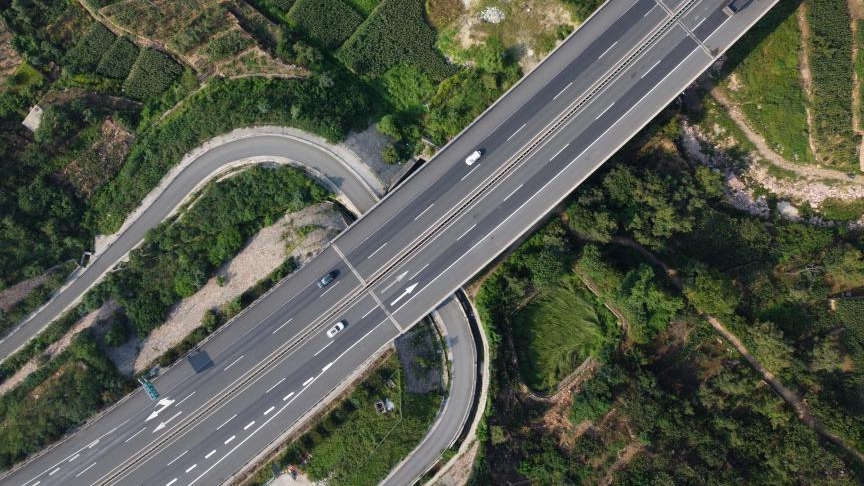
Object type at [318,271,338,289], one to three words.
car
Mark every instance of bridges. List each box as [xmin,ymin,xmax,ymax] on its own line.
[327,0,777,335]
